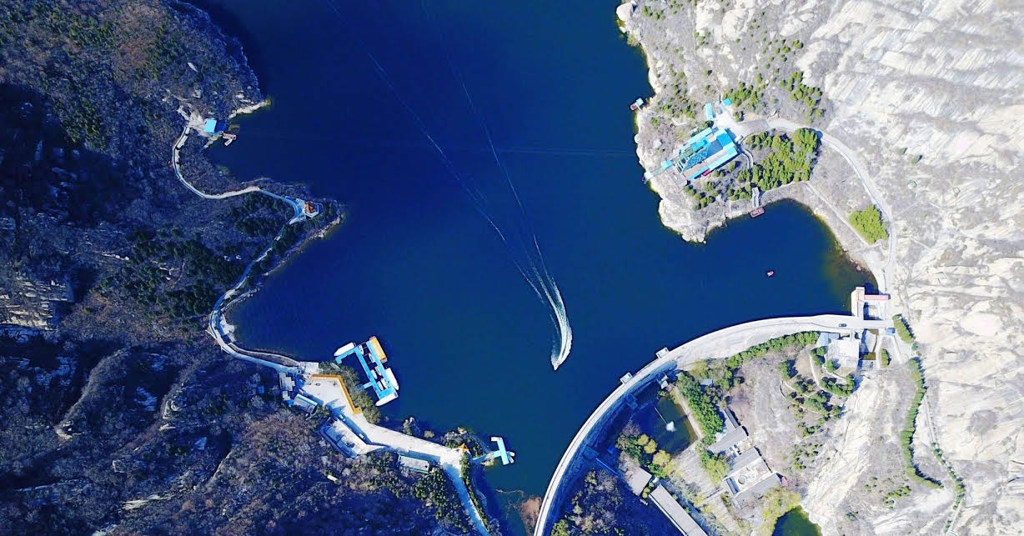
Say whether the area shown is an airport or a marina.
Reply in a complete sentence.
The area seen from above is a marina.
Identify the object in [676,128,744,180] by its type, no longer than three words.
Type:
building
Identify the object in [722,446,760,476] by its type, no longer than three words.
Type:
house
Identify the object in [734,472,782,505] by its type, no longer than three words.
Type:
house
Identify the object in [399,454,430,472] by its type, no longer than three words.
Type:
building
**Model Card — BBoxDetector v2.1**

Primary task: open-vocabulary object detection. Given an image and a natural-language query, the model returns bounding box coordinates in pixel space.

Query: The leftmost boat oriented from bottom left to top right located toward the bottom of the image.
[334,342,355,356]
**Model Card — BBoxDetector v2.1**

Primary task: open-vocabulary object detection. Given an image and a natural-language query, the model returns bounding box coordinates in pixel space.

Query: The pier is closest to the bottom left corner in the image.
[336,341,398,400]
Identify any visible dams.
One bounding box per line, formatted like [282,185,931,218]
[534,314,856,536]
